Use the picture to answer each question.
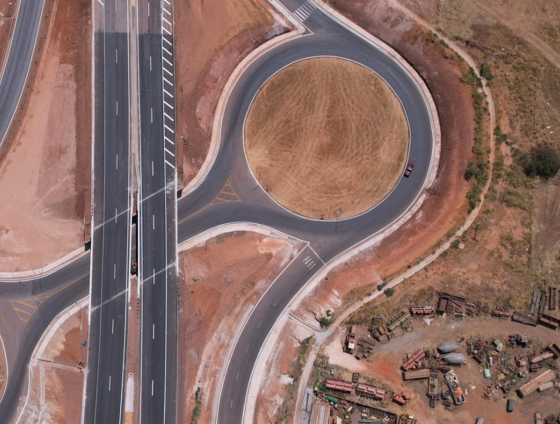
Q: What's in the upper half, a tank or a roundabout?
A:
roundabout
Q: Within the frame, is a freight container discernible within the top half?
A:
No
